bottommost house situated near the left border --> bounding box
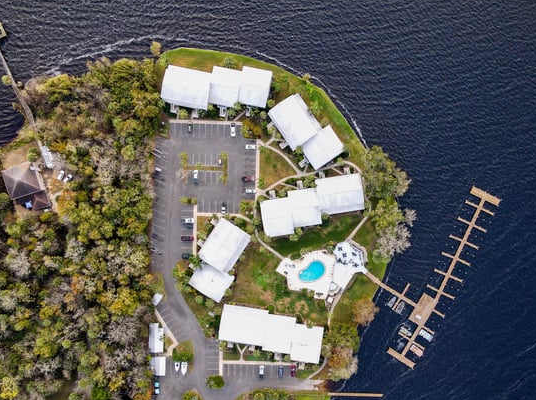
[2,160,52,210]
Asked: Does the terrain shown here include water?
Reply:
Yes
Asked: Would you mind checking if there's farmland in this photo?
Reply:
No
